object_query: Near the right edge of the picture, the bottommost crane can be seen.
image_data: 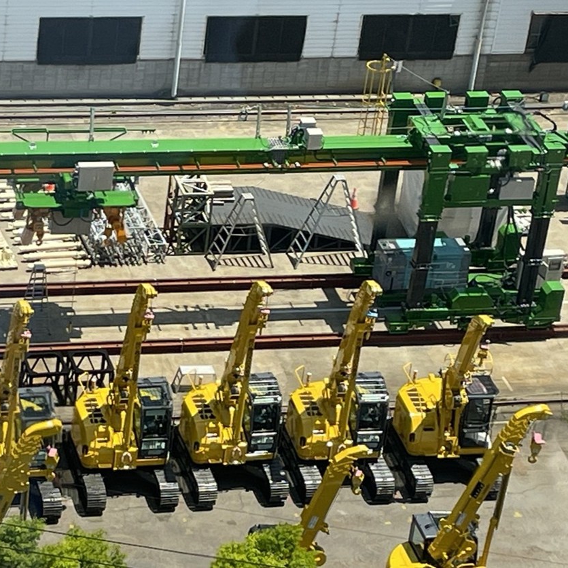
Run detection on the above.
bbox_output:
[391,414,556,568]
